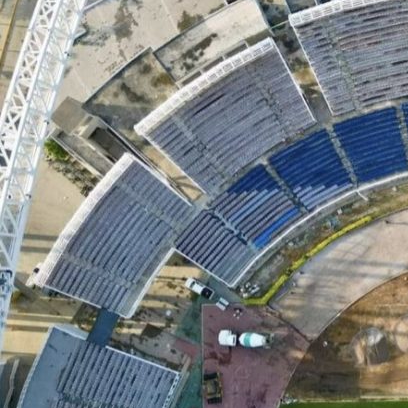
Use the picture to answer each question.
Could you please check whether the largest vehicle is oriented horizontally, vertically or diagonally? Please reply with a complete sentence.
The largest vehicle is laid out horizontally.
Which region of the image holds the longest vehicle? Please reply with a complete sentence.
The longest vehicle is in the bottom part of the image.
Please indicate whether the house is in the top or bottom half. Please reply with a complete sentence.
It is in the top half that the house appears.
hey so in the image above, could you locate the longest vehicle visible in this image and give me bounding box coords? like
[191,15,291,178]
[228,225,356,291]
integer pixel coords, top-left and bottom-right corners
[218,329,277,349]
